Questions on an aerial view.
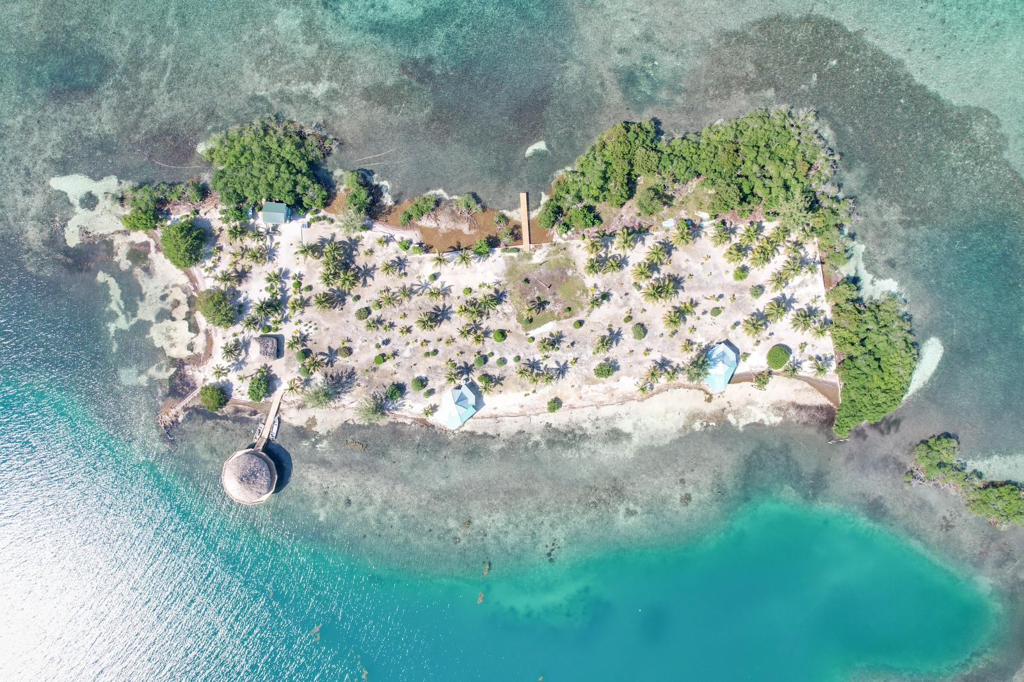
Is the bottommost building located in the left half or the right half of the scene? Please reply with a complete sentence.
The bottommost building is on the left side of the image.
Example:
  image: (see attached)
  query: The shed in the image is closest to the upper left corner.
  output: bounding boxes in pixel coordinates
[262,202,291,223]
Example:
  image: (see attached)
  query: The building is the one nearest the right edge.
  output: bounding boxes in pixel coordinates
[704,343,737,391]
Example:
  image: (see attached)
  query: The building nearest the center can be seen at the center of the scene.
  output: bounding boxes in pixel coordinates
[444,385,476,429]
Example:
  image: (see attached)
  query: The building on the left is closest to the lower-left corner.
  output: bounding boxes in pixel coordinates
[220,448,279,505]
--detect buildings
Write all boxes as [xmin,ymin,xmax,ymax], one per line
[220,448,279,505]
[249,336,278,363]
[704,343,737,391]
[444,385,476,429]
[262,202,291,223]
